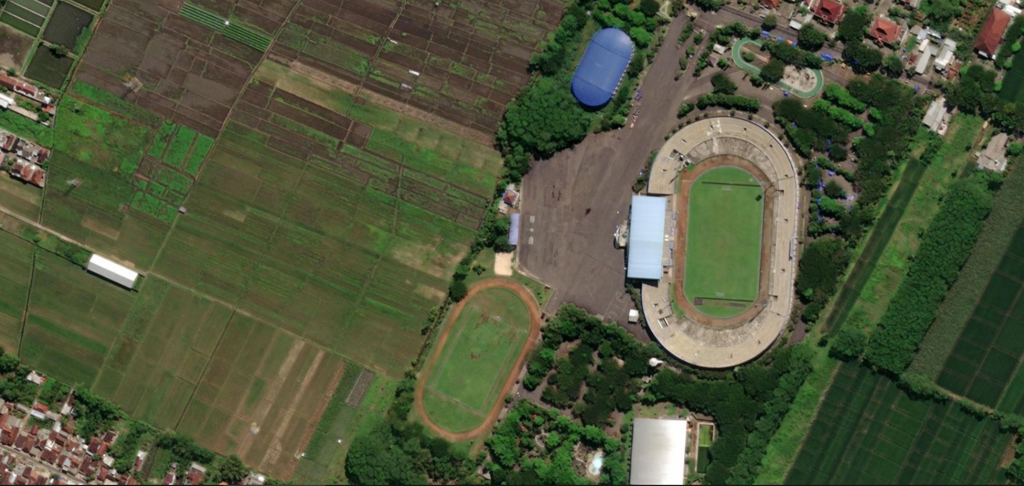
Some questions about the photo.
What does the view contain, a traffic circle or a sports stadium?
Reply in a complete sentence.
Looking from above, you can make out a sports stadium.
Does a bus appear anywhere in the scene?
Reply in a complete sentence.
No, I can't see a single bus in this photo.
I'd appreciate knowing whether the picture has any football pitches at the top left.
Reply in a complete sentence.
No, the scene shows no football pitch at the top left.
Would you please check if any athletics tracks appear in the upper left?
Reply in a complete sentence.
No, I see no athletics track in the upper left.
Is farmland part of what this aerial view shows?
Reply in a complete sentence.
Yes, the picture does contain farmland.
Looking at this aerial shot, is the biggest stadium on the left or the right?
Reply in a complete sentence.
The biggest stadium is on the right side of the image.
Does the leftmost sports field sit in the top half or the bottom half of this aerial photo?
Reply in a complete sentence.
The leftmost sports field is in the bottom half of the image.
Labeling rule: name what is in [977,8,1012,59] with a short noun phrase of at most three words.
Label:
house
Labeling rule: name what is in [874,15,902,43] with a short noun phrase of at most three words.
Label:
house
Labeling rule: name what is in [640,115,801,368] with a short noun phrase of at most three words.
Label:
stadium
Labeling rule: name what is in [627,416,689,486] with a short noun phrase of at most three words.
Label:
building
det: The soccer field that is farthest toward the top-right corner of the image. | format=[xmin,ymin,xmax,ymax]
[684,166,763,318]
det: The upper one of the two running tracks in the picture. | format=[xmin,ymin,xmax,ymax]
[670,155,773,331]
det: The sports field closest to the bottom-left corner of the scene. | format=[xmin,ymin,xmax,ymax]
[422,288,531,433]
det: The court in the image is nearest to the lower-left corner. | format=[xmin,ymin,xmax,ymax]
[494,252,513,276]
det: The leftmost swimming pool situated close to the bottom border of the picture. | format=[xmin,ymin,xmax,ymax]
[585,448,606,479]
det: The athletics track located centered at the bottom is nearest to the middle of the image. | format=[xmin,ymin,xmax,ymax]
[416,277,541,442]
